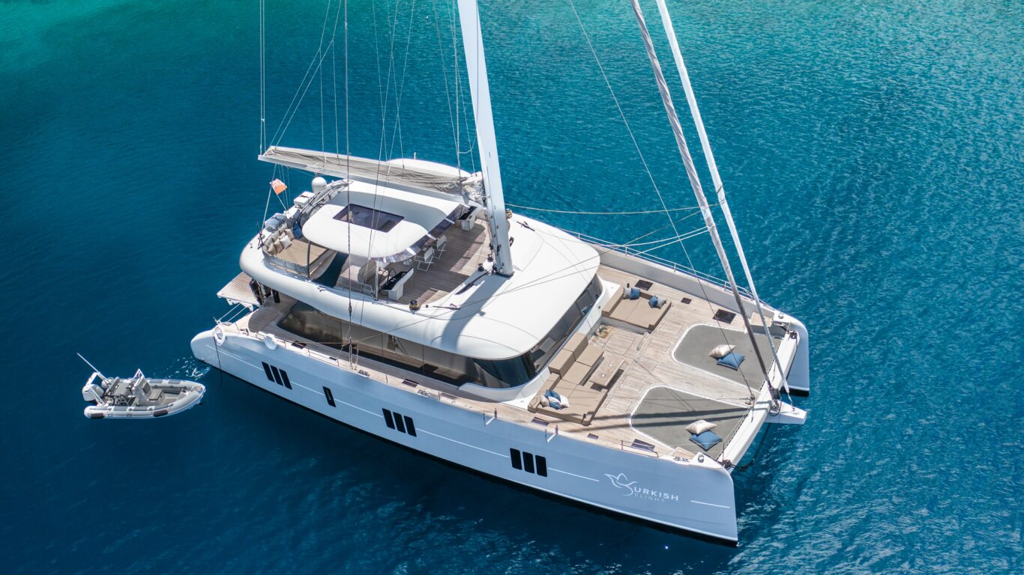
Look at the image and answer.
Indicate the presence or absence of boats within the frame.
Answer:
Yes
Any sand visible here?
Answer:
No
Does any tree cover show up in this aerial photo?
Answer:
No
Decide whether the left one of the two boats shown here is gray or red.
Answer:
gray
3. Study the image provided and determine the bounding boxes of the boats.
[192,0,811,545]
[73,353,206,422]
